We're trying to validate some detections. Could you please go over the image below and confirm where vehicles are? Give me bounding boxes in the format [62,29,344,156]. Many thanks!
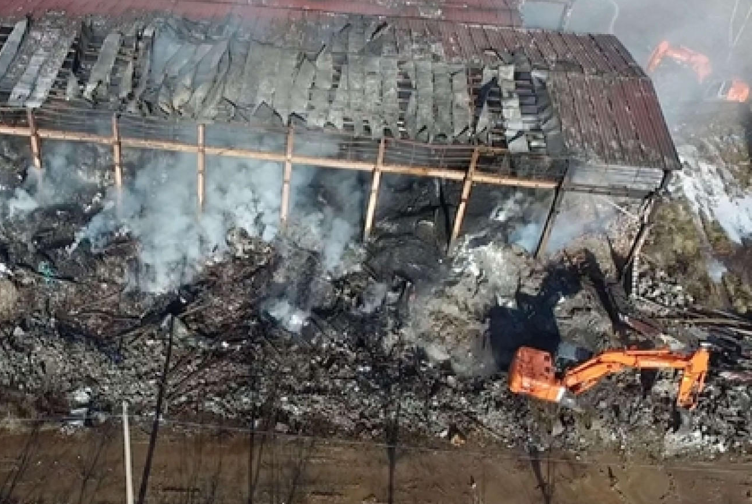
[501,338,706,422]
[646,36,752,121]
